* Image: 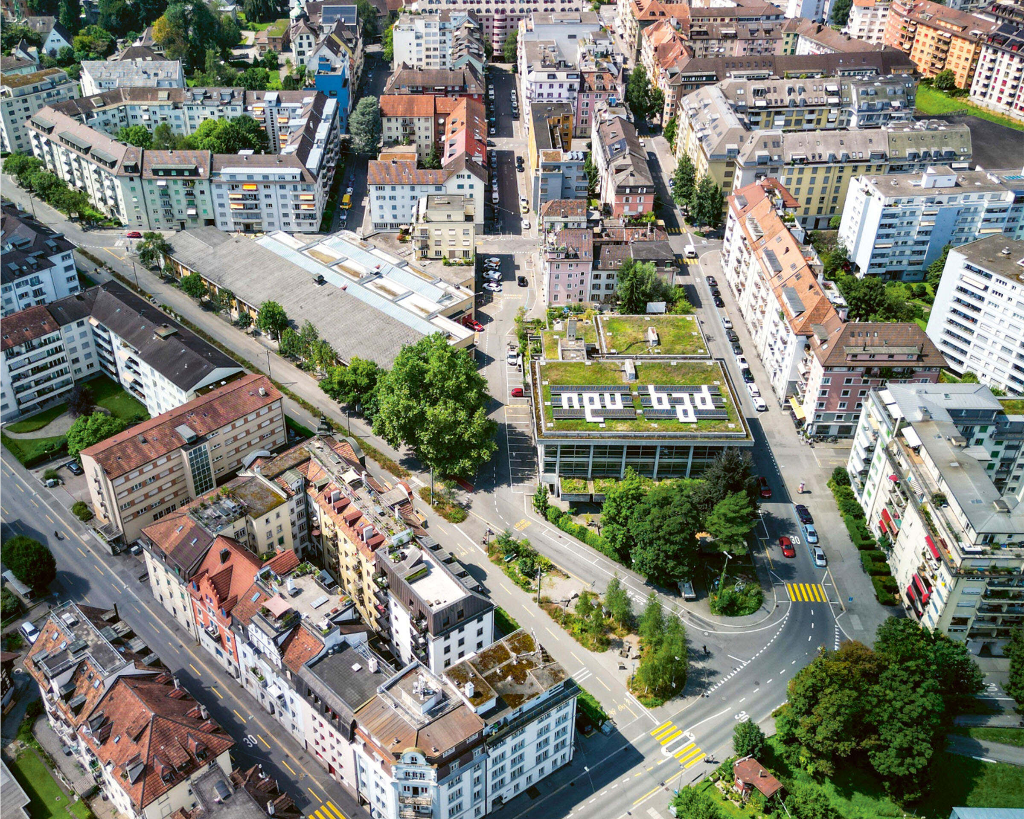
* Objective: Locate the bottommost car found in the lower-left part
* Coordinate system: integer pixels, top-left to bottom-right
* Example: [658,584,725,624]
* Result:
[18,616,40,640]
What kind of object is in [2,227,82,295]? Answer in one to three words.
house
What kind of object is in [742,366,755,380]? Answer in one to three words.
vehicle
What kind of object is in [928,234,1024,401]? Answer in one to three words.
building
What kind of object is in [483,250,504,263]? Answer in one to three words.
vehicle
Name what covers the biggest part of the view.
buildings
